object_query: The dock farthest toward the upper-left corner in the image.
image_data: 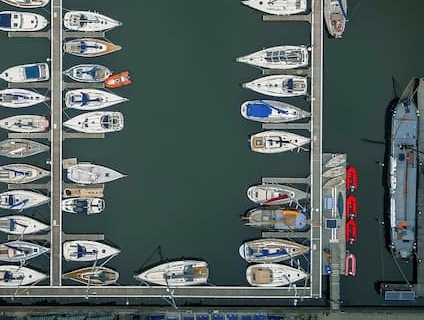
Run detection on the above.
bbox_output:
[8,0,105,286]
